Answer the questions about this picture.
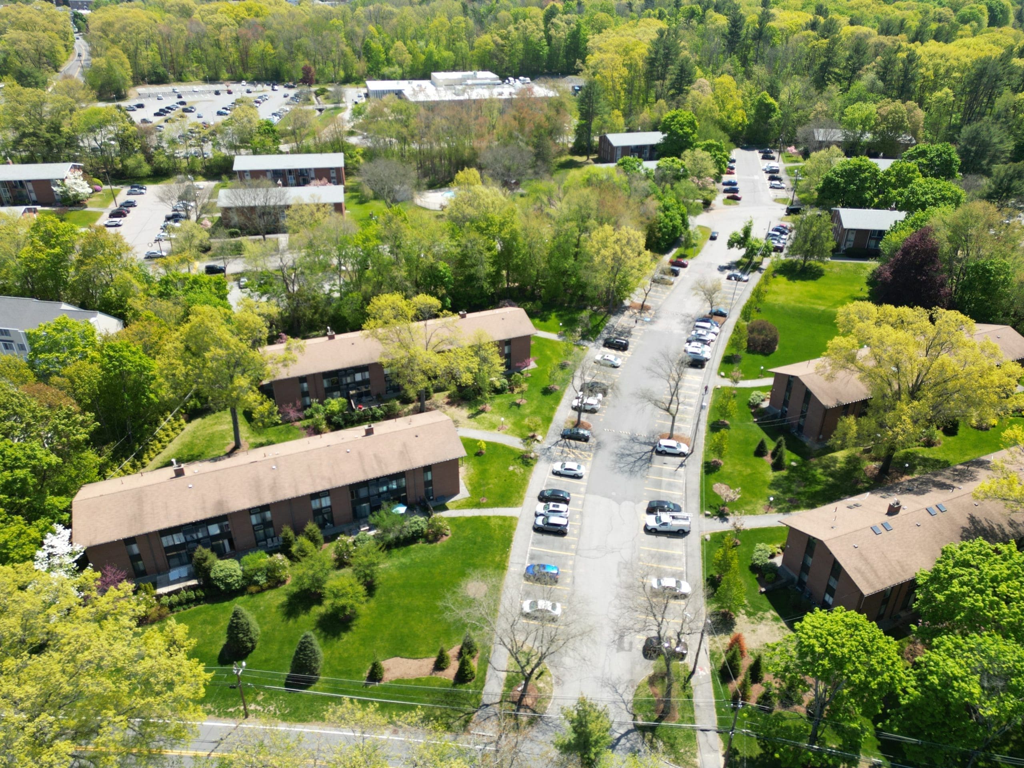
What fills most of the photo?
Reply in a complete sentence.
The largest share of the image is taken up by trees.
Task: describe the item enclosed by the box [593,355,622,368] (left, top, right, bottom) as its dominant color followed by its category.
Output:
white vehicle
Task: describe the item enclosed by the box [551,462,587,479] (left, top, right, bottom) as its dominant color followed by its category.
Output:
white car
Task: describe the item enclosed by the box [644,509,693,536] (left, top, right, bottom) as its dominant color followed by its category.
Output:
white truck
